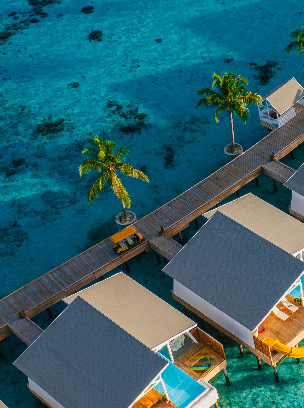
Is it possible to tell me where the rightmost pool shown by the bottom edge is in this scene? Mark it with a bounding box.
[154,353,207,407]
